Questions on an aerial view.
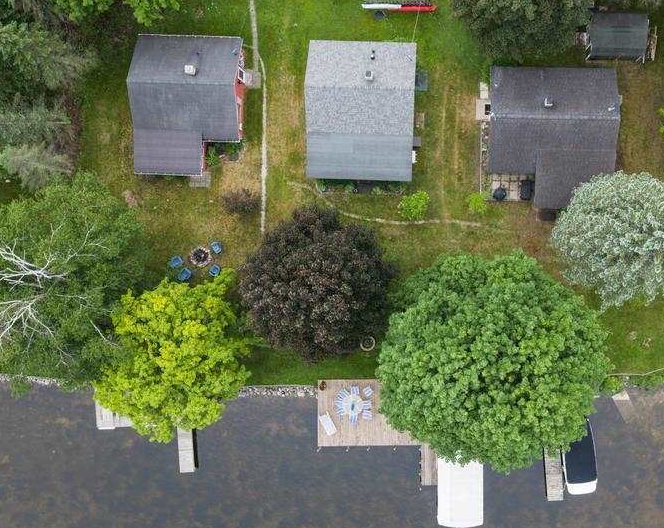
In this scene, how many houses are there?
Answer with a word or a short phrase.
3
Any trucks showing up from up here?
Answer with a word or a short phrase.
No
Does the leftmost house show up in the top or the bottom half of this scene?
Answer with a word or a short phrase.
top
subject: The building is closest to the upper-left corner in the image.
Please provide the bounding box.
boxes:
[128,33,248,177]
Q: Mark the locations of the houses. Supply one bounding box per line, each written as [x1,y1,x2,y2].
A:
[128,33,248,177]
[304,39,418,183]
[490,64,623,211]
